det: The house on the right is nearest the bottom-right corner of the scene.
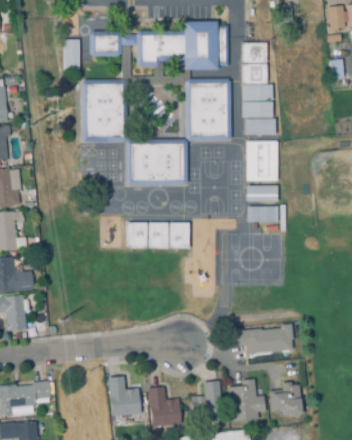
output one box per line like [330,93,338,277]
[270,382,304,413]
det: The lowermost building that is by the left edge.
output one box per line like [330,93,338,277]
[0,420,38,440]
